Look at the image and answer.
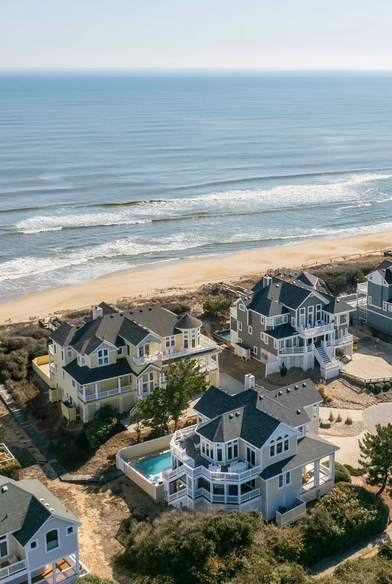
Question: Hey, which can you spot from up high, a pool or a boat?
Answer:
pool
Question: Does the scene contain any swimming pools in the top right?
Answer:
No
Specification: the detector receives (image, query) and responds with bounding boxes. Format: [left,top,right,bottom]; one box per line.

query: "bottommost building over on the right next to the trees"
[163,368,342,524]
